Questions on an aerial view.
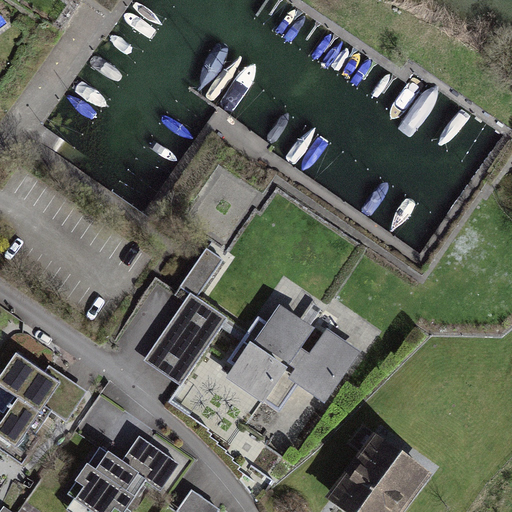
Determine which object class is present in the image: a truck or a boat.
boat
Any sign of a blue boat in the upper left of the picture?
Yes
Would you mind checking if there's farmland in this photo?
No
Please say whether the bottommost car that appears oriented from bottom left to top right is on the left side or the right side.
left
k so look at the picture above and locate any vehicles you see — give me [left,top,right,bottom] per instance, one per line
[122,244,140,266]
[33,329,52,346]
[4,237,24,261]
[86,296,106,321]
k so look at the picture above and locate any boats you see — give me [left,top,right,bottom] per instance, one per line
[310,34,330,60]
[441,109,470,144]
[366,182,388,214]
[334,48,348,70]
[304,136,328,170]
[401,85,438,136]
[110,36,134,54]
[199,44,230,90]
[150,142,177,160]
[325,42,342,68]
[133,2,162,25]
[160,114,193,139]
[270,114,289,141]
[274,10,296,36]
[222,64,256,112]
[288,128,316,164]
[352,60,370,86]
[124,14,156,42]
[67,96,98,120]
[72,82,108,106]
[372,74,390,98]
[342,53,360,79]
[208,56,240,100]
[285,16,304,43]
[392,76,421,119]
[392,198,417,232]
[90,58,122,80]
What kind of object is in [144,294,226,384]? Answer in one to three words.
building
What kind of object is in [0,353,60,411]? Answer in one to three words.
house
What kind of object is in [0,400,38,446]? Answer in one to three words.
house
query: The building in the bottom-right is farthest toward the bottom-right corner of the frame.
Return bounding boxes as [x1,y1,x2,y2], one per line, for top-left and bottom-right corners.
[316,432,432,512]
